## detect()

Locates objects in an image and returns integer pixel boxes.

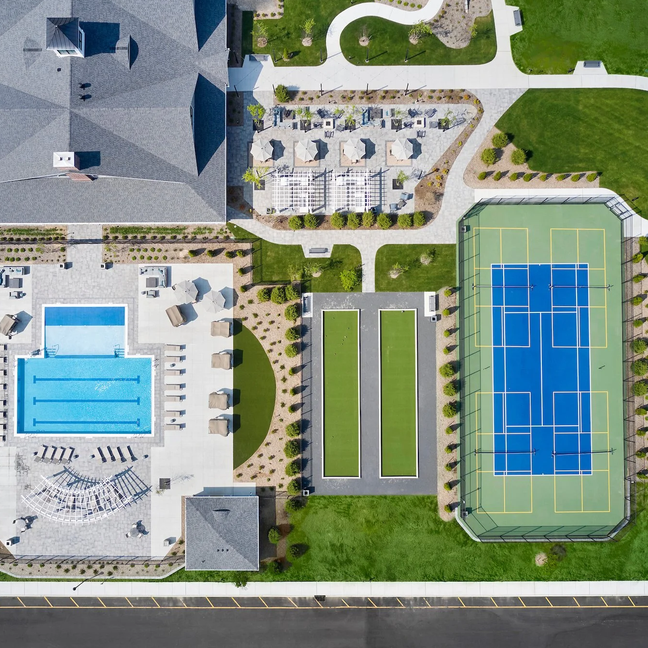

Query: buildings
[185,494,259,571]
[0,0,233,225]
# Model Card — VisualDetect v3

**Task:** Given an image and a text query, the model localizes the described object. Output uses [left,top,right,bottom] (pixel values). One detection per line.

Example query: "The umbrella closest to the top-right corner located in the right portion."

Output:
[390,137,414,159]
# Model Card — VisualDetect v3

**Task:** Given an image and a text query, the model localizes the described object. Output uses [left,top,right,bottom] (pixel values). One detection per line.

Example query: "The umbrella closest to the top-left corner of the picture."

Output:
[250,138,274,161]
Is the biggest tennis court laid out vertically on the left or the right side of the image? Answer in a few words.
right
